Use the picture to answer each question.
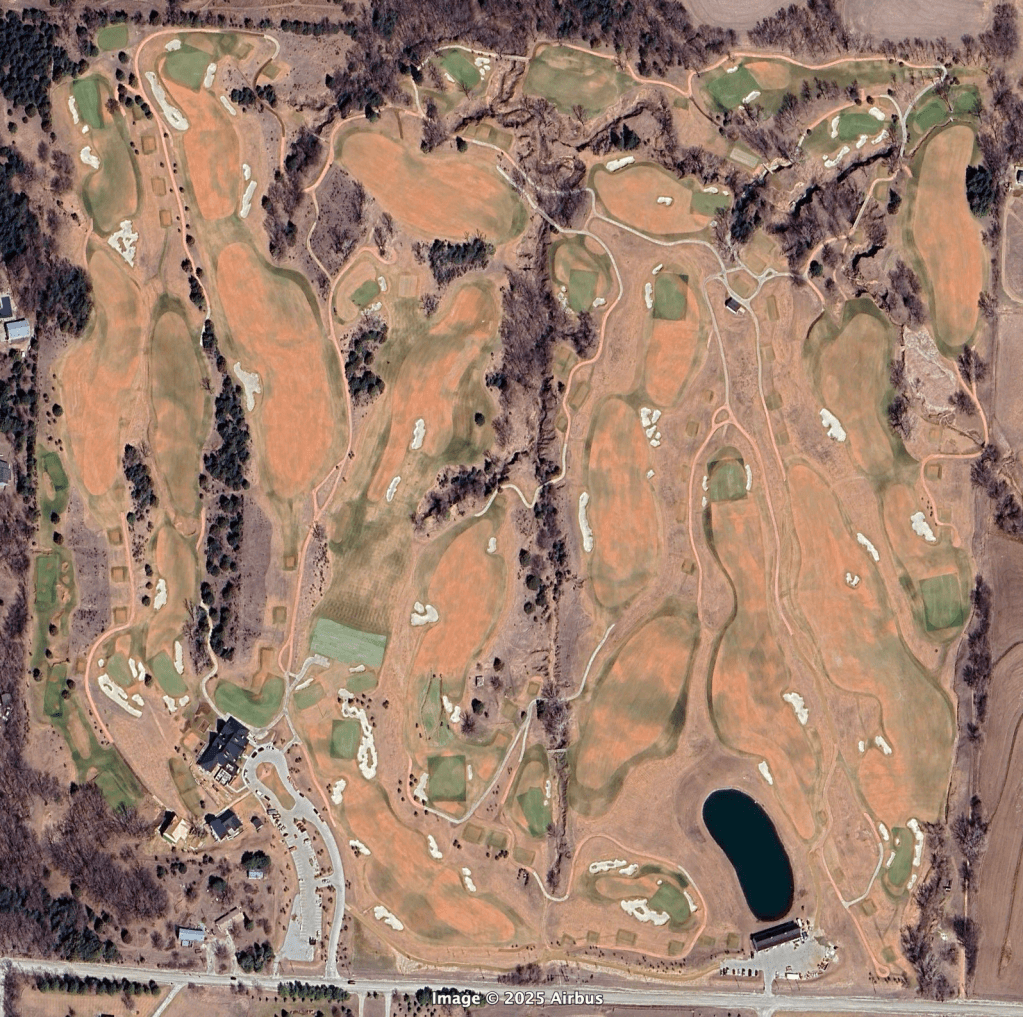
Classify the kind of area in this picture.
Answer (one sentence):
It's a golf course.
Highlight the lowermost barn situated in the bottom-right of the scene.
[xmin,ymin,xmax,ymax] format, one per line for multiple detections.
[752,922,803,952]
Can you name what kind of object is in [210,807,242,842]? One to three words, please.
house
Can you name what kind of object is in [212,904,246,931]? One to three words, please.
house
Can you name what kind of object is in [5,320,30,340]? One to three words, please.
shed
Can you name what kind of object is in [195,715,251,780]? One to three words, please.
building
